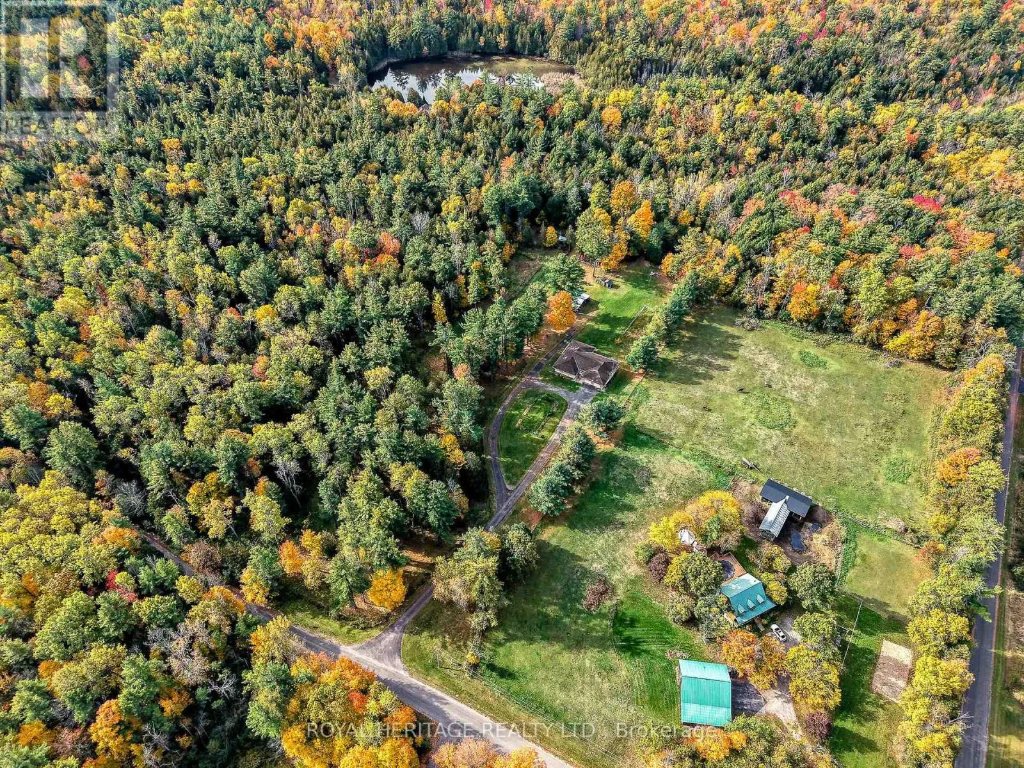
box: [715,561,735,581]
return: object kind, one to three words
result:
swimming pool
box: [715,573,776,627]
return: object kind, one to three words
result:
house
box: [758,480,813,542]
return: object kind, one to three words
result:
building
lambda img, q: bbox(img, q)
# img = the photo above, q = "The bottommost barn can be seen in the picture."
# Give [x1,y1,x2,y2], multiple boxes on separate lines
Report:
[678,659,732,729]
